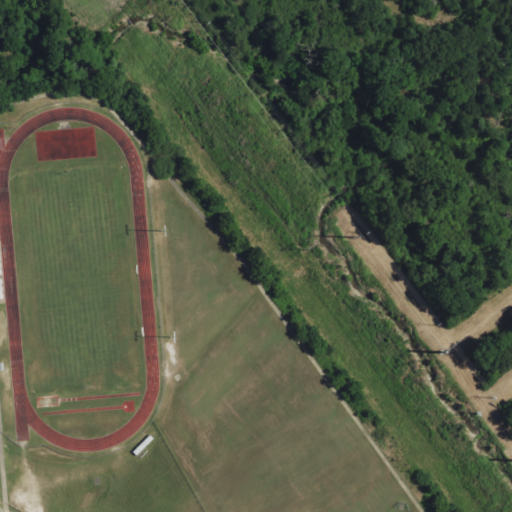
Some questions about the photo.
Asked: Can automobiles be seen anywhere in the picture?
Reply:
No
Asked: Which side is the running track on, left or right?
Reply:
left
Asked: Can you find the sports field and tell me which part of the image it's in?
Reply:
left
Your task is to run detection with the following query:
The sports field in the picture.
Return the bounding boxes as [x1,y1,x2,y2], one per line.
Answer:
[10,120,146,438]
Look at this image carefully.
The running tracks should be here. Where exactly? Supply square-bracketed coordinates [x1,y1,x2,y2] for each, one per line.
[0,107,160,451]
